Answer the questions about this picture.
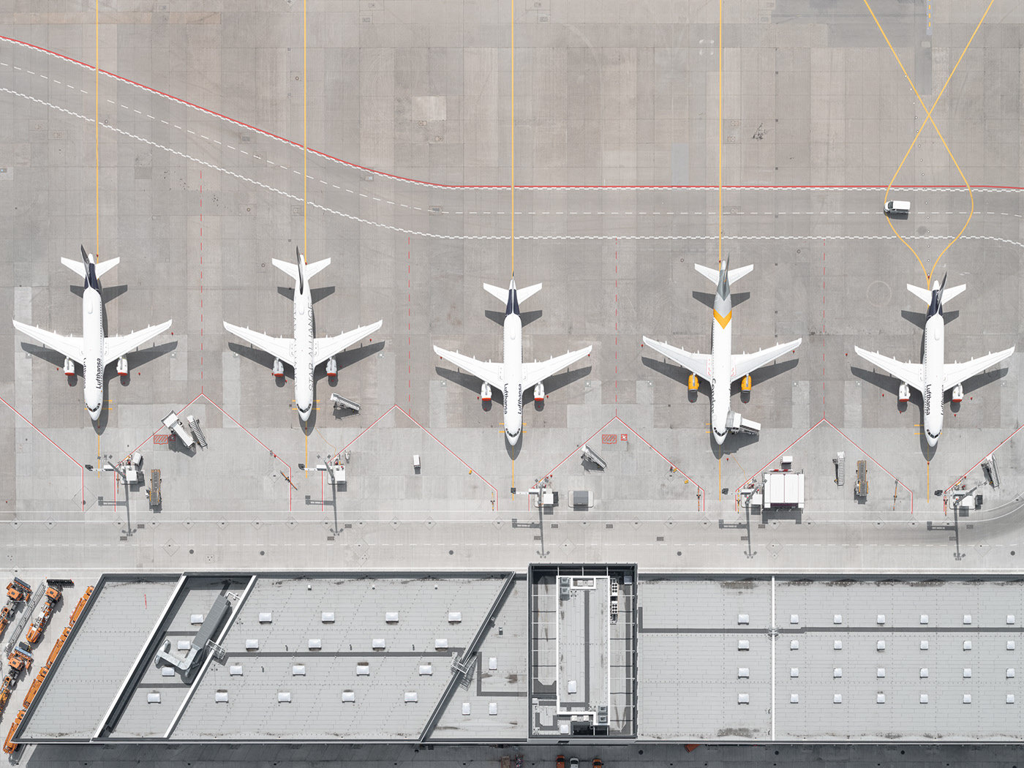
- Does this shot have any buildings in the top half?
No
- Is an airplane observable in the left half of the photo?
Yes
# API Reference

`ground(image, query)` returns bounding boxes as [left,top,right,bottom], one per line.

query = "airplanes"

[433,276,593,446]
[642,252,802,445]
[854,273,1015,446]
[223,247,383,421]
[12,245,173,420]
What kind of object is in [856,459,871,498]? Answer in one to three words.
work vehicle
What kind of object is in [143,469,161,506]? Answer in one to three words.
work vehicle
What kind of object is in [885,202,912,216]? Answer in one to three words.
vehicle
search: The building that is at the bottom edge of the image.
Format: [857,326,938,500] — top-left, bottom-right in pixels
[9,563,1024,749]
